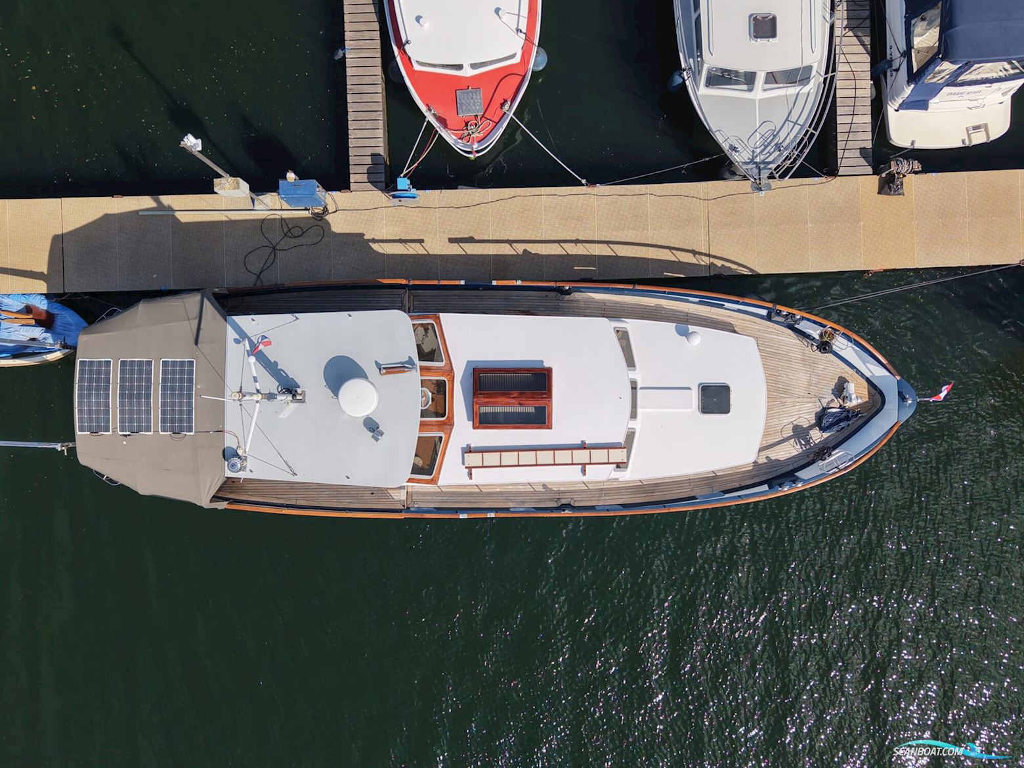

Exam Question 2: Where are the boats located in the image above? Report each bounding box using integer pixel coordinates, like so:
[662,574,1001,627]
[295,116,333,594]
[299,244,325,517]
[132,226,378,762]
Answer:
[0,278,954,517]
[0,290,91,369]
[668,0,846,192]
[876,0,1024,151]
[382,0,545,166]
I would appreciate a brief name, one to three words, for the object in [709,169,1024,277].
pier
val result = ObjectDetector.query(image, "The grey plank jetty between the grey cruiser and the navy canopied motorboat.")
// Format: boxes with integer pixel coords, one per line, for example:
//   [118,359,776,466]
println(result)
[828,0,873,177]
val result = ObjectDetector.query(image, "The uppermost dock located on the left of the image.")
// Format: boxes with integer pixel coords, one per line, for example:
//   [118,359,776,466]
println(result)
[344,0,395,191]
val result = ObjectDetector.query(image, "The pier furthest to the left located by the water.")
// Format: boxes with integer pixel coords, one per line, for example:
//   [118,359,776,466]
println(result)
[0,198,70,296]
